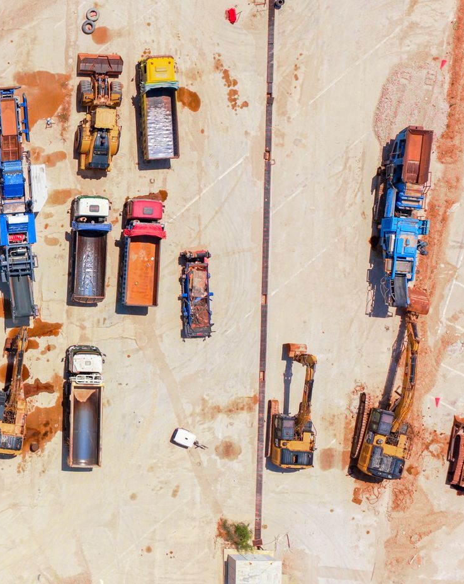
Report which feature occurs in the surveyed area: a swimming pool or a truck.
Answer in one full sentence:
Of the two, only a truck appears.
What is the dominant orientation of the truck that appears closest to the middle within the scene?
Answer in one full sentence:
From this overhead view, the truck that appears closest to the middle appears to run from top to bottom.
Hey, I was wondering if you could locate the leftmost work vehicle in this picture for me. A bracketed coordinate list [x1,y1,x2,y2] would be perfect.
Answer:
[0,322,33,454]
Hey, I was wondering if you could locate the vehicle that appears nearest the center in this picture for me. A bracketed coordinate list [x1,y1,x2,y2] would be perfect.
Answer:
[179,249,215,342]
